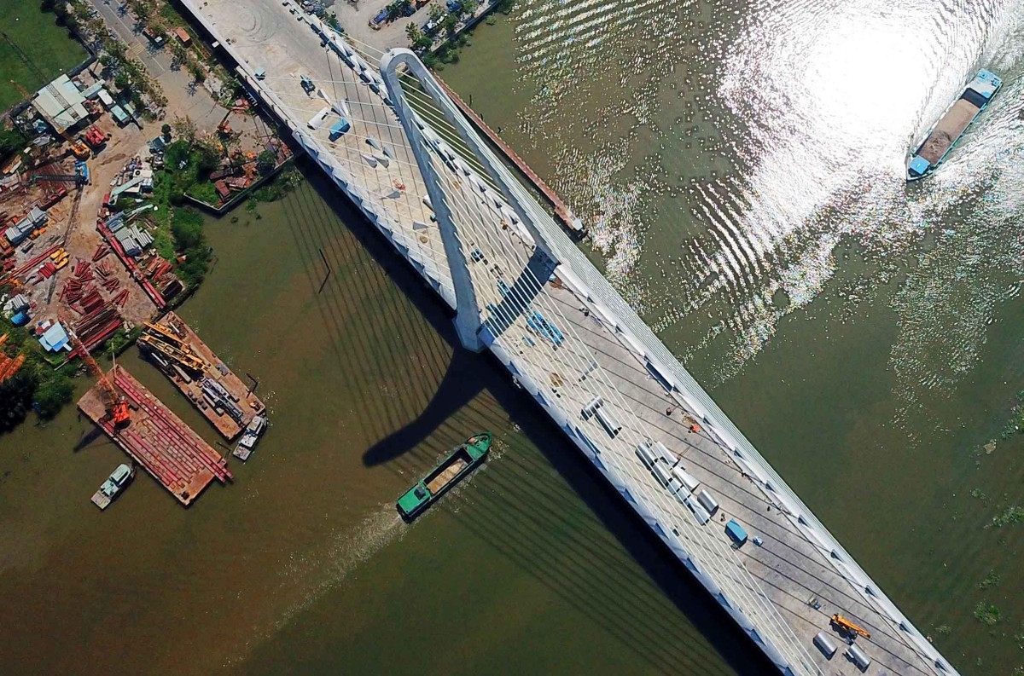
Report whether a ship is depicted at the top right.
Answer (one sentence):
Yes, looking at the top right, one can make out a ship.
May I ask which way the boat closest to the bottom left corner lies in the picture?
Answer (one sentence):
From this overhead view, the boat closest to the bottom left corner appears to run at an angle.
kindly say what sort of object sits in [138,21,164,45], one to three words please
truck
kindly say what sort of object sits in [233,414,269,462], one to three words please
boat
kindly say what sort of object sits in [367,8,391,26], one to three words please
vehicle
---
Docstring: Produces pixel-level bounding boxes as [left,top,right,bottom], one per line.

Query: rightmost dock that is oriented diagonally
[435,72,592,241]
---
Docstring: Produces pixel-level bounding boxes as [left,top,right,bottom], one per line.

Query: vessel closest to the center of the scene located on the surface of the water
[392,432,493,524]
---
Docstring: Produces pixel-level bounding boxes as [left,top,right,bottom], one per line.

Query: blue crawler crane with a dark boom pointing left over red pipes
[29,152,96,197]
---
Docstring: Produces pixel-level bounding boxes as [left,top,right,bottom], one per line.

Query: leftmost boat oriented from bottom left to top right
[89,464,134,512]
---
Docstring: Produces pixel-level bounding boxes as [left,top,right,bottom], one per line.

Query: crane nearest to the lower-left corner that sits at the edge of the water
[55,313,132,427]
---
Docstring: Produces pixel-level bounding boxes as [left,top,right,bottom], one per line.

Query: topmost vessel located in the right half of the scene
[902,66,1008,184]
